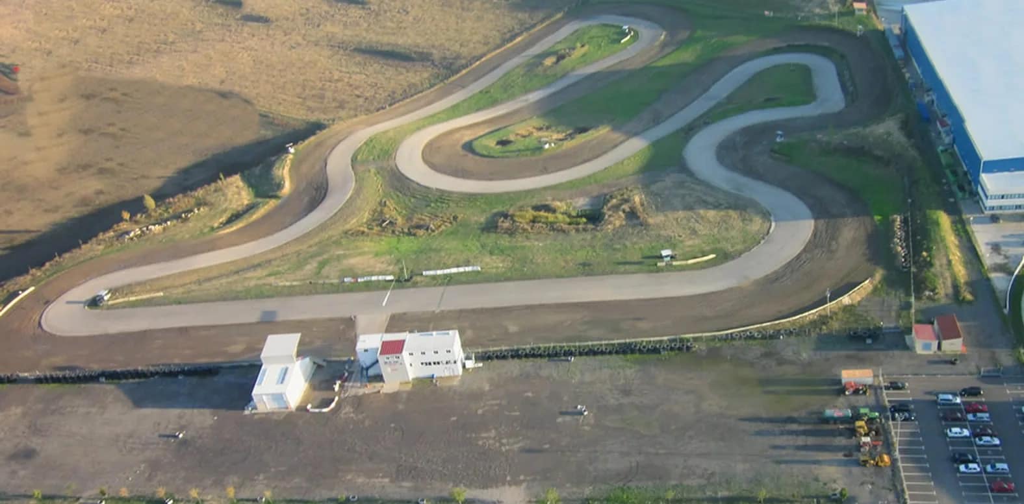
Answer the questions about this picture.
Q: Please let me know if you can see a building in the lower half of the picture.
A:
Yes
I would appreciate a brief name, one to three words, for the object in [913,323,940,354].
building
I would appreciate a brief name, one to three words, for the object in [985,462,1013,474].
vehicle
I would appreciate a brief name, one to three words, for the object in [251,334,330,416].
house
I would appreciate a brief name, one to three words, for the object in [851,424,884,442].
work vehicle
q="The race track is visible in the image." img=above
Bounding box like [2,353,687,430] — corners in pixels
[39,15,845,336]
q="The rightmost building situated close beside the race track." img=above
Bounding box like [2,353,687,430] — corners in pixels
[906,0,1024,202]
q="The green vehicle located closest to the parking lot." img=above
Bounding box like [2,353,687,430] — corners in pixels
[856,406,881,424]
